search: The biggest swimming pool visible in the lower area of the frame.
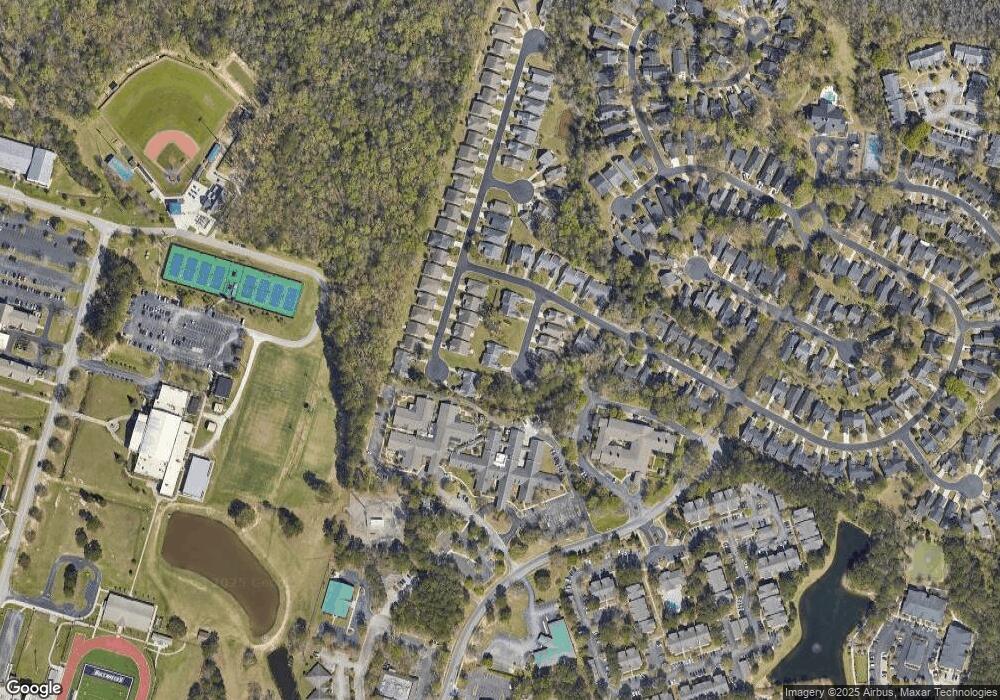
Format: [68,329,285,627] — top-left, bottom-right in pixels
[660,590,683,612]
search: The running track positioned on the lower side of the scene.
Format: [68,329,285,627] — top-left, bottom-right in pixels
[57,634,150,700]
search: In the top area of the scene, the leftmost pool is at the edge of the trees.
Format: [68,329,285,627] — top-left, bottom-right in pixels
[820,86,837,104]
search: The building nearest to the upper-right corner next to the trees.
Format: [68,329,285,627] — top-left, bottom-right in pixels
[951,44,992,64]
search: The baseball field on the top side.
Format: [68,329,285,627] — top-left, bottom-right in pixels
[99,57,239,196]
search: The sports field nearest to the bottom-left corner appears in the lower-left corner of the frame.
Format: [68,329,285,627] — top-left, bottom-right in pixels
[68,645,139,700]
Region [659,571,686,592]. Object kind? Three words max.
building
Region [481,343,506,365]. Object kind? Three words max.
house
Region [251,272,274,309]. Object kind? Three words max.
tennis court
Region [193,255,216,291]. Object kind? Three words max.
tennis court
